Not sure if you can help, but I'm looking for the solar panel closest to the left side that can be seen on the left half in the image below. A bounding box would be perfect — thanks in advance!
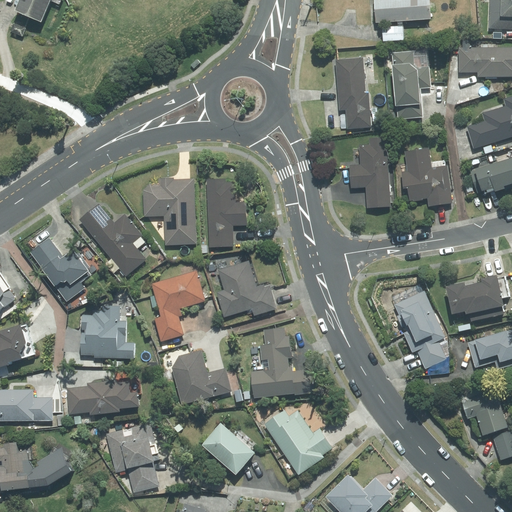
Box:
[90,205,111,228]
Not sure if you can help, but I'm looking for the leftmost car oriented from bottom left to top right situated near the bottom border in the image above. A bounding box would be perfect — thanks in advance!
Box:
[386,475,402,491]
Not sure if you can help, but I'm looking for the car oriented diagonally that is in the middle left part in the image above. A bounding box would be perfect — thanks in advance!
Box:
[34,231,50,243]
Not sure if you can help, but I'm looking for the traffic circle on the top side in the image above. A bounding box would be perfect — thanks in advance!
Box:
[220,76,266,122]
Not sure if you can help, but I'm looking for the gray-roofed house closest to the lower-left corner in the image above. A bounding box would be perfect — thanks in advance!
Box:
[0,442,74,490]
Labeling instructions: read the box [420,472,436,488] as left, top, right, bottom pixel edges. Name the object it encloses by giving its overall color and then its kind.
white vehicle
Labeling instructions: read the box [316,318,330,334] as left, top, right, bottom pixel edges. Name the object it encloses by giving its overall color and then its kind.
white vehicle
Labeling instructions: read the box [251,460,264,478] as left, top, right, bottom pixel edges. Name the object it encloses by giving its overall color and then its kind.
gray vehicle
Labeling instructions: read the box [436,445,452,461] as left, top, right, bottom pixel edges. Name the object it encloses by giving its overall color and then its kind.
white car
